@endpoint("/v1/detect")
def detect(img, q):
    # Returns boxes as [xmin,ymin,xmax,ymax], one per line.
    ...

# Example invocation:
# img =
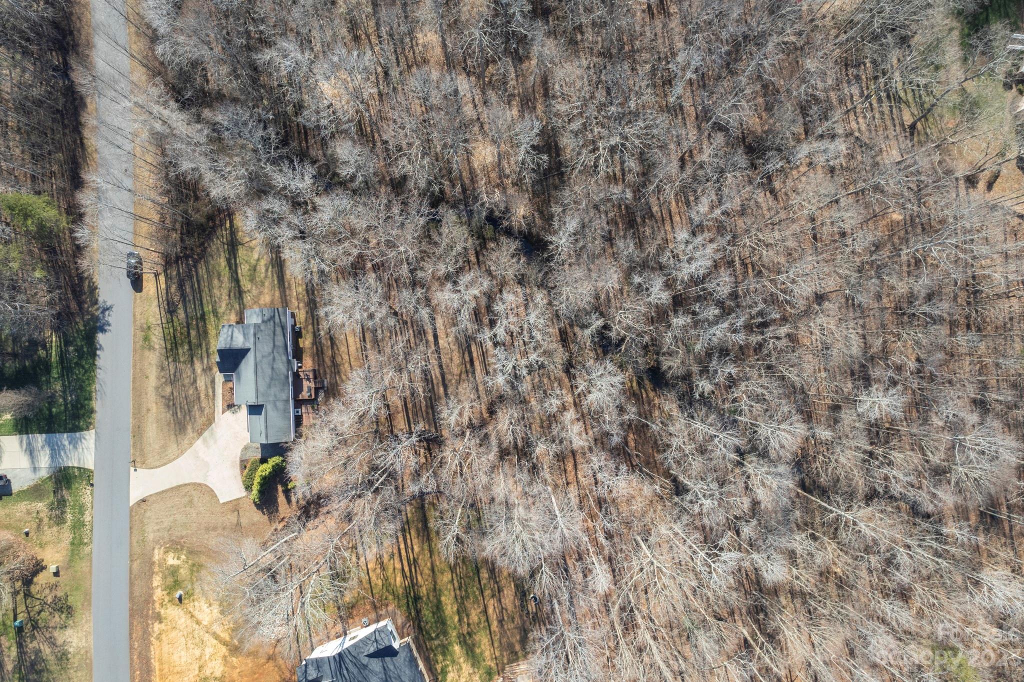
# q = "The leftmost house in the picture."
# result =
[213,307,301,444]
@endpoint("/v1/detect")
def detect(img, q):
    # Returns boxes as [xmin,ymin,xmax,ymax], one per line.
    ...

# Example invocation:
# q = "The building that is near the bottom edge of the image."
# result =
[295,618,424,682]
